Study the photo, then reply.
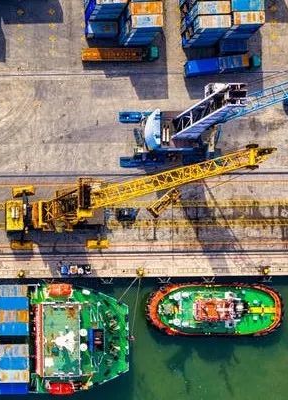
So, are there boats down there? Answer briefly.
Yes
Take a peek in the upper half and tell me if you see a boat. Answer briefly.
No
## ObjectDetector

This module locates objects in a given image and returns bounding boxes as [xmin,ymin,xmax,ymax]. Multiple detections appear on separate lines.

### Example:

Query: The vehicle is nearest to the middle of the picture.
[116,206,140,219]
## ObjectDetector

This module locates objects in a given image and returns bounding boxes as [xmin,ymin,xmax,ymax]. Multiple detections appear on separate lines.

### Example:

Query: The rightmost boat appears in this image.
[142,281,283,339]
